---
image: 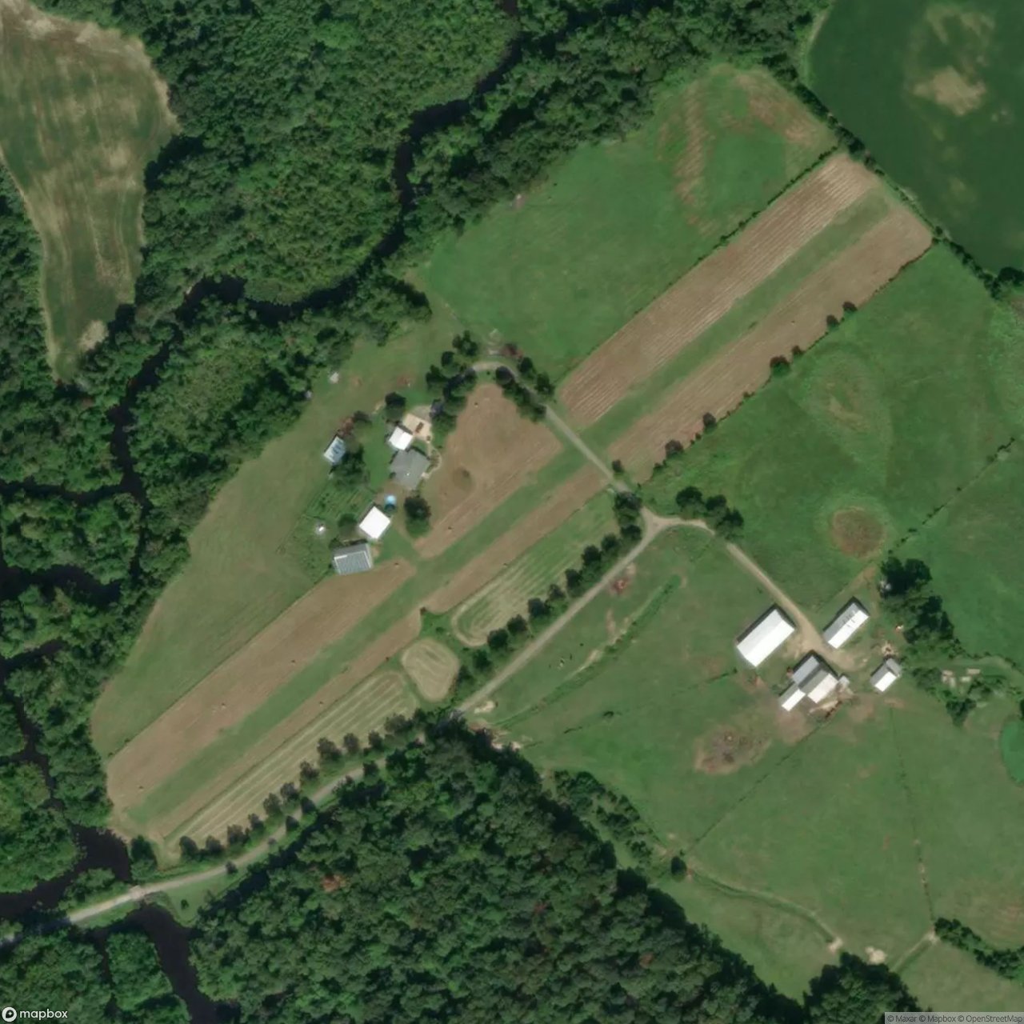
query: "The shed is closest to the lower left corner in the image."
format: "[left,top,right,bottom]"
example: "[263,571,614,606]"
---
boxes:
[333,543,373,575]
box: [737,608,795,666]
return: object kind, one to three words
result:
barn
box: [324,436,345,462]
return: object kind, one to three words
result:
shed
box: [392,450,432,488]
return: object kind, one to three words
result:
house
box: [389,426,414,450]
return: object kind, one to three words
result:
building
